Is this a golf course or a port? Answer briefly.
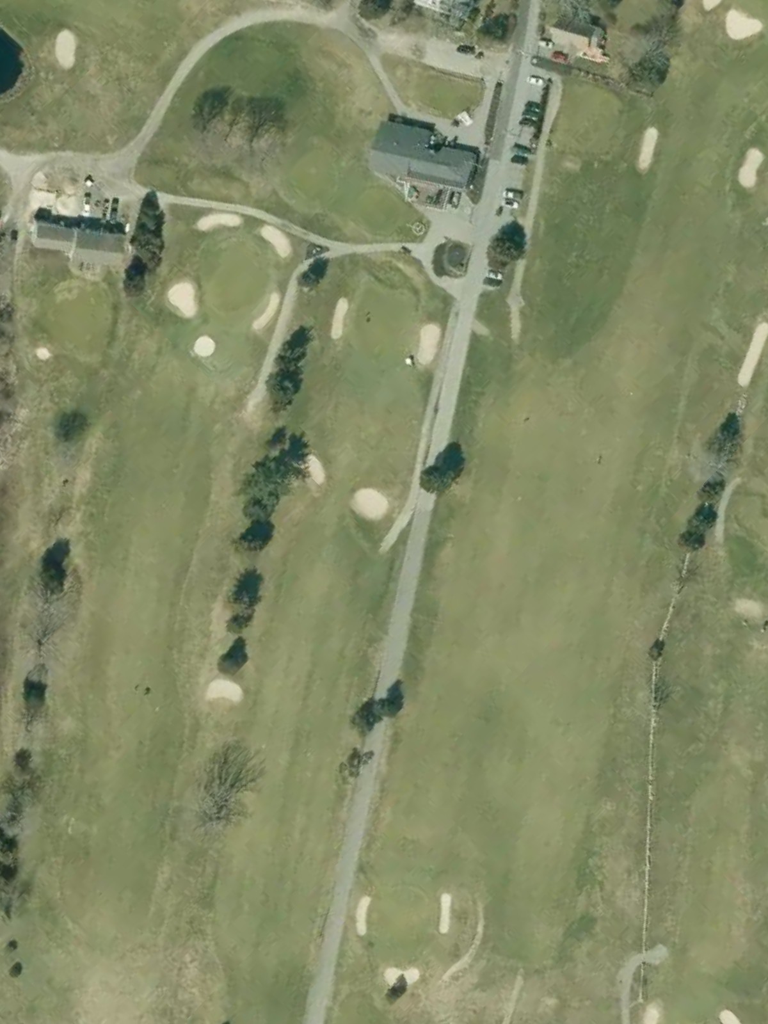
golf course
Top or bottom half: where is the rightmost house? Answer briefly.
top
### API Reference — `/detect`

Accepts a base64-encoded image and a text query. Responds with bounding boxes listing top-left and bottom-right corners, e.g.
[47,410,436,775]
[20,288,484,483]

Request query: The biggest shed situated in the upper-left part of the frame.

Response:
[34,220,127,277]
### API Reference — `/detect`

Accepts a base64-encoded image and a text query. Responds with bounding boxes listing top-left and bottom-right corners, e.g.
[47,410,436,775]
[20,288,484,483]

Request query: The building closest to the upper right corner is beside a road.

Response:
[549,14,611,64]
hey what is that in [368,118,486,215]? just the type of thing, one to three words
building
